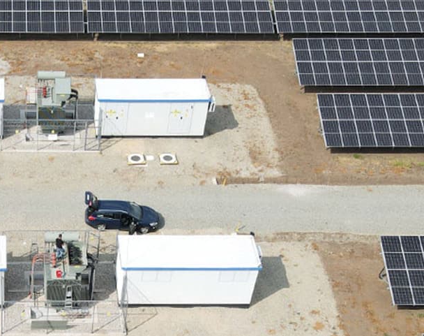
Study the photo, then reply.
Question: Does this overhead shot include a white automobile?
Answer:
No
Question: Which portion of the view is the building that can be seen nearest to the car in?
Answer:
bottom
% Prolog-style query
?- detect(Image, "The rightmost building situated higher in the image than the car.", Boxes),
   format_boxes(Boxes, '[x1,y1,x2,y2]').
[97,77,211,136]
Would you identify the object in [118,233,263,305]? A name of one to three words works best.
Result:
building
